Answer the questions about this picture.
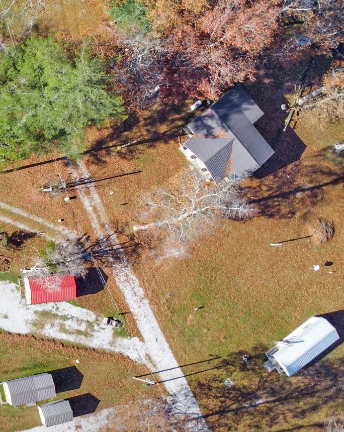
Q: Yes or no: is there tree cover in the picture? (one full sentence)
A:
Yes, some tree cover is visible.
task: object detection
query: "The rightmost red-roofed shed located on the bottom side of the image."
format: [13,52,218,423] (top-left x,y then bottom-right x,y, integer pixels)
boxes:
[24,275,76,304]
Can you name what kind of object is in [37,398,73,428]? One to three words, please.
shed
